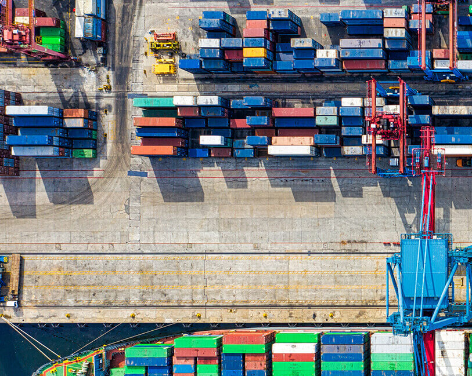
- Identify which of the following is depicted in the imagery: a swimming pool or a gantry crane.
gantry crane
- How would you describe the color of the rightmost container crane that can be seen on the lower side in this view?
blue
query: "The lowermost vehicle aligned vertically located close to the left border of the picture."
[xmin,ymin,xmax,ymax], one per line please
[7,253,22,308]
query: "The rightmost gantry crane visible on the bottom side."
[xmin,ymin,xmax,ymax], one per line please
[384,116,472,376]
